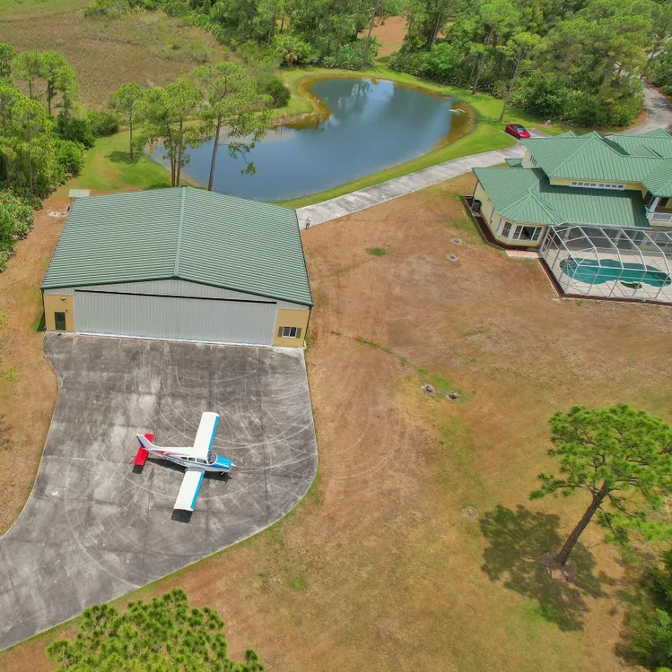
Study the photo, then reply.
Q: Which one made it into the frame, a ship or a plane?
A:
plane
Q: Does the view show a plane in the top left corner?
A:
No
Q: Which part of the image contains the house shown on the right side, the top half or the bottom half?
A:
top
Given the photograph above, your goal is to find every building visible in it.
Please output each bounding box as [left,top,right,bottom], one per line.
[41,185,314,349]
[468,116,672,254]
